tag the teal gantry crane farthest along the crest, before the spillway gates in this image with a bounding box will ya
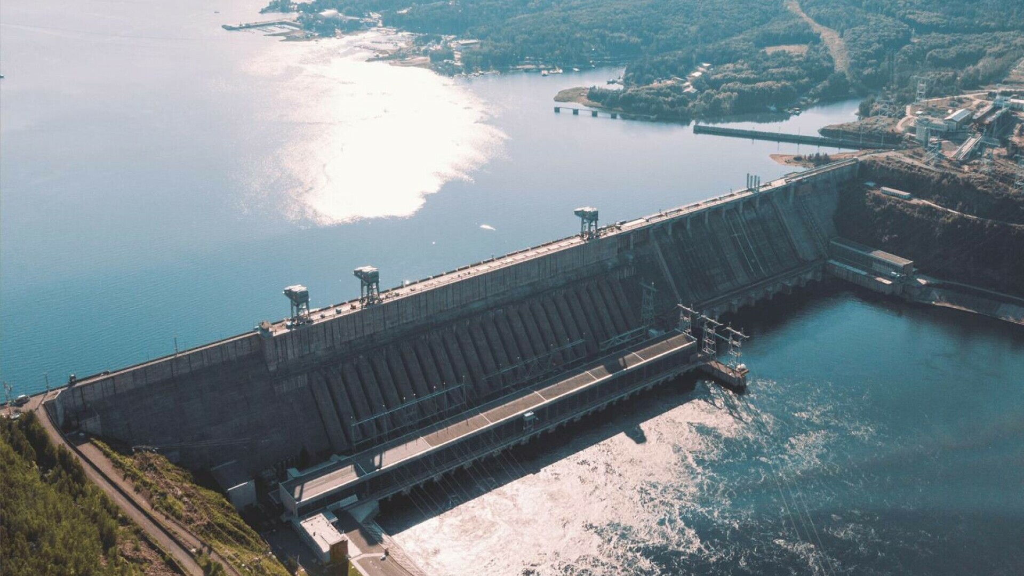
[574,207,598,241]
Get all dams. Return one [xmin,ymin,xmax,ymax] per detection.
[34,156,863,475]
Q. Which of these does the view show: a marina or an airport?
marina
